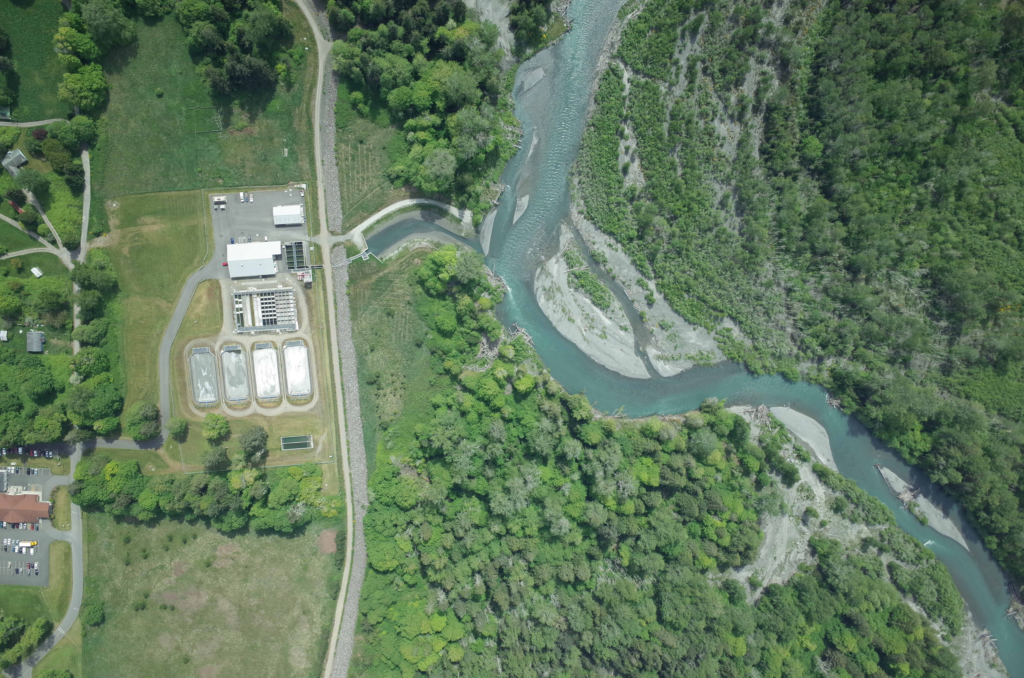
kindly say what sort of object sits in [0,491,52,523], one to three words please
building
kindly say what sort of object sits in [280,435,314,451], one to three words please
water tank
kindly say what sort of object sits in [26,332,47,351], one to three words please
house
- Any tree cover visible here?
Yes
